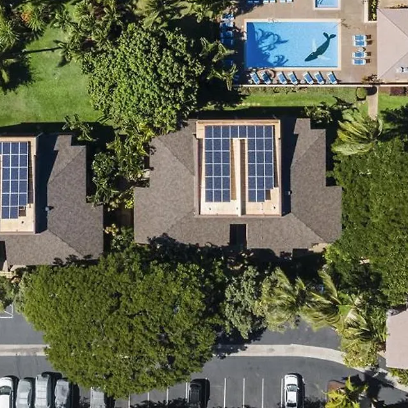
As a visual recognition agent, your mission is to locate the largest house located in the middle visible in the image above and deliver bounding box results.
[134,115,341,258]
